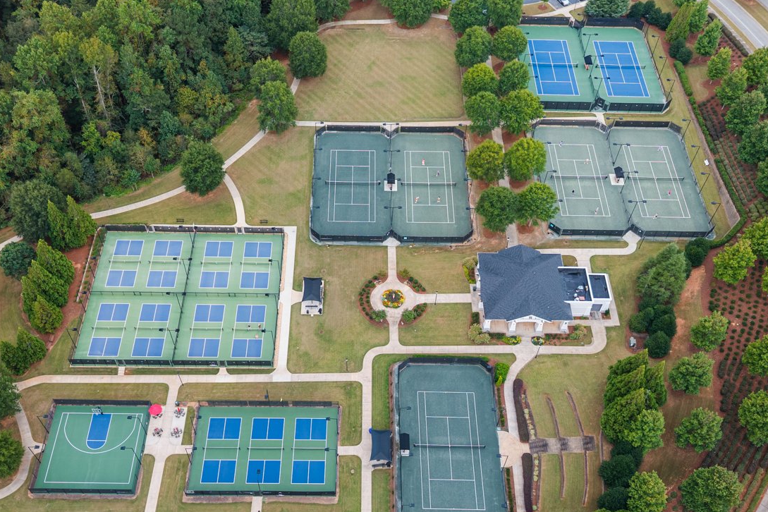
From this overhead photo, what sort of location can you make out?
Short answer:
sports ground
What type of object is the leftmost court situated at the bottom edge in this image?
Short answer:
basketball court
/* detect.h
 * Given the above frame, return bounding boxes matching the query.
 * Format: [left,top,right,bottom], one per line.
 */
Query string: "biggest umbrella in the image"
[147,403,161,415]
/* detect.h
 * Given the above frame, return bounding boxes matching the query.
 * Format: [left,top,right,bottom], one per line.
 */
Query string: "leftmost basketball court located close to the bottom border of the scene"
[31,405,149,493]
